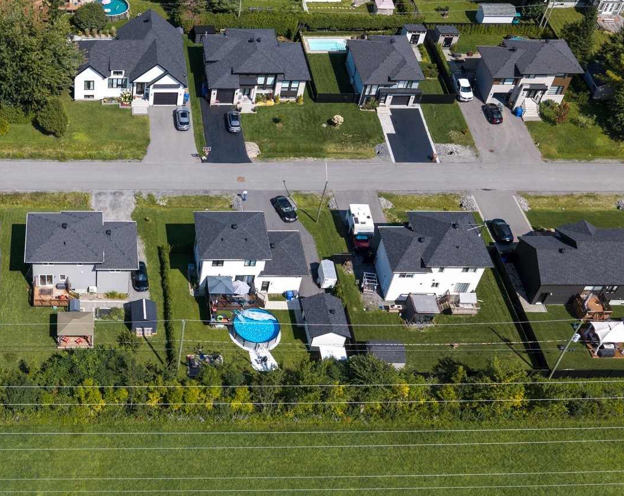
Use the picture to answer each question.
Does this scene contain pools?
Yes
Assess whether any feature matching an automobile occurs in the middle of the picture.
Yes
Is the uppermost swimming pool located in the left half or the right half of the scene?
left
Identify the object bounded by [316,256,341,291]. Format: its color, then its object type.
white trailer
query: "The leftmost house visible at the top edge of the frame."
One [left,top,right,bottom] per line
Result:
[70,10,185,110]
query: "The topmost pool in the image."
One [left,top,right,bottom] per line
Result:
[94,0,130,24]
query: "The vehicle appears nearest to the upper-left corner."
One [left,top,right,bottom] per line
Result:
[175,110,191,129]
